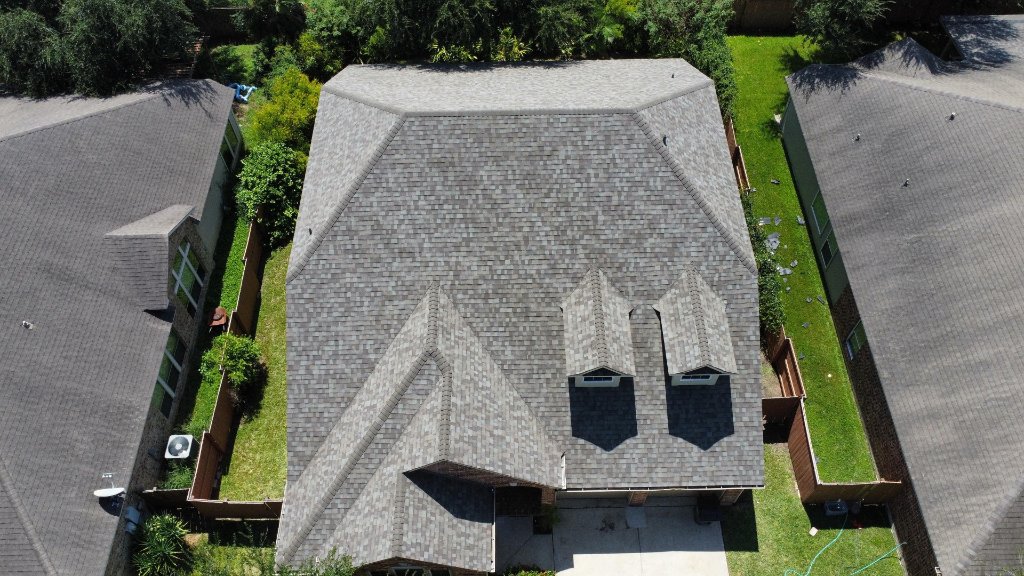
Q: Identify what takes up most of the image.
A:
buildings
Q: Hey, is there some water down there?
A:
No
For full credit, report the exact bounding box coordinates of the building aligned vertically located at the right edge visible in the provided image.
[781,17,1024,576]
